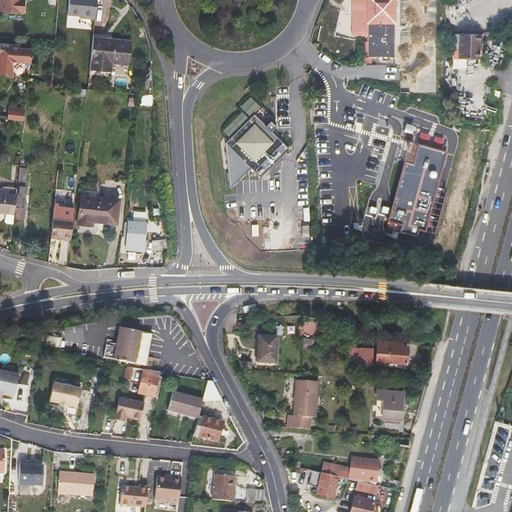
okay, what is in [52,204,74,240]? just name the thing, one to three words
house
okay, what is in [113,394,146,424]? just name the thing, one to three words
house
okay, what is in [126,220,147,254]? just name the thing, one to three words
building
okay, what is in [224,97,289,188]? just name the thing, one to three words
building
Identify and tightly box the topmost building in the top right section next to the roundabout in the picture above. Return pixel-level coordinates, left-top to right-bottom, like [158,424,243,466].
[352,0,398,64]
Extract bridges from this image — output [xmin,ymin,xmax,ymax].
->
[433,284,512,316]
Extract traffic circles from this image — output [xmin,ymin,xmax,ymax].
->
[152,0,324,78]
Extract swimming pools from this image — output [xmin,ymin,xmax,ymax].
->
[114,77,128,87]
[0,353,11,364]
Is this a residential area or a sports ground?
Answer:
residential area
